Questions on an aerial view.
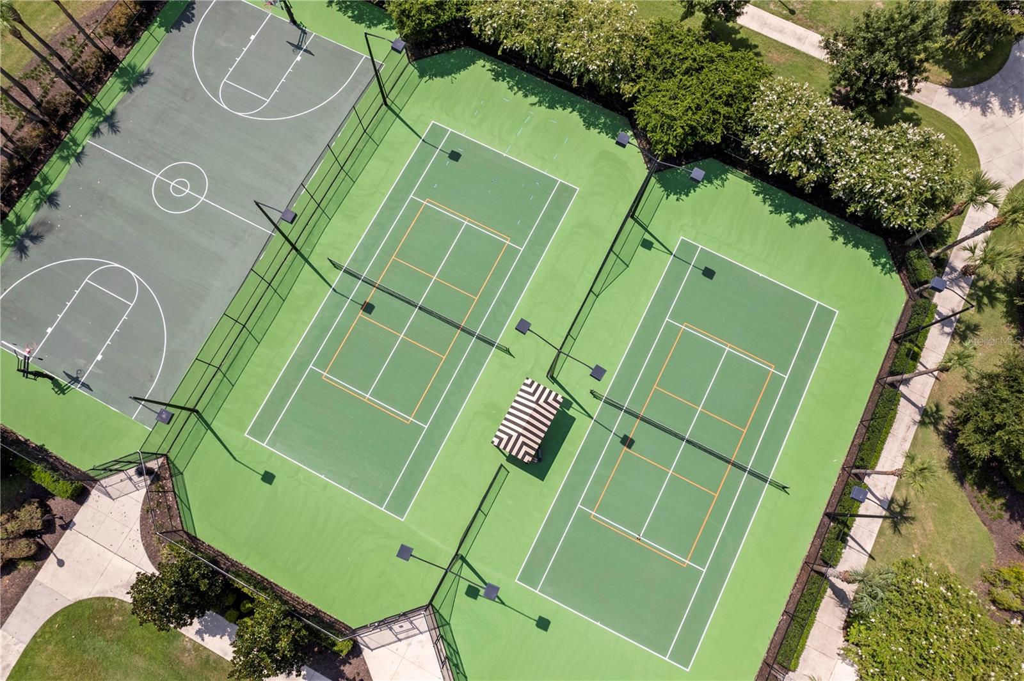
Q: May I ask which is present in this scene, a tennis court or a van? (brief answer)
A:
tennis court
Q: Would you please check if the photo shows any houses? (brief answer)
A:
No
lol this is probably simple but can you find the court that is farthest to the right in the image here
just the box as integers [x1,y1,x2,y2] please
[433,158,909,681]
